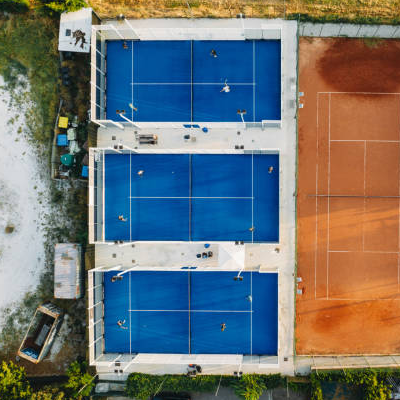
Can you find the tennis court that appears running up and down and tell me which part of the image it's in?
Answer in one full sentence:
The tennis court that appears running up and down is in the right part of the image.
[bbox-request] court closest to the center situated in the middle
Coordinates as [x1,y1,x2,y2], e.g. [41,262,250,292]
[89,146,282,245]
